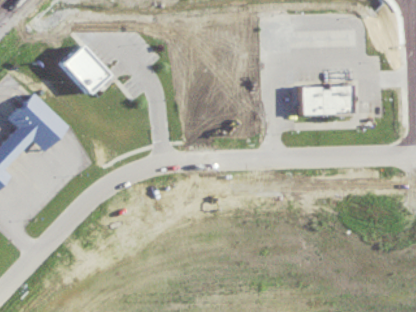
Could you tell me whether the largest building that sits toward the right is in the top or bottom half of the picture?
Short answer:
top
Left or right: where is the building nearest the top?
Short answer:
left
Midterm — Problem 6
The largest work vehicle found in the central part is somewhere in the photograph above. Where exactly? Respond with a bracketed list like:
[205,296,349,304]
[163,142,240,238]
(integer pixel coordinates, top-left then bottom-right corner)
[212,122,239,136]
